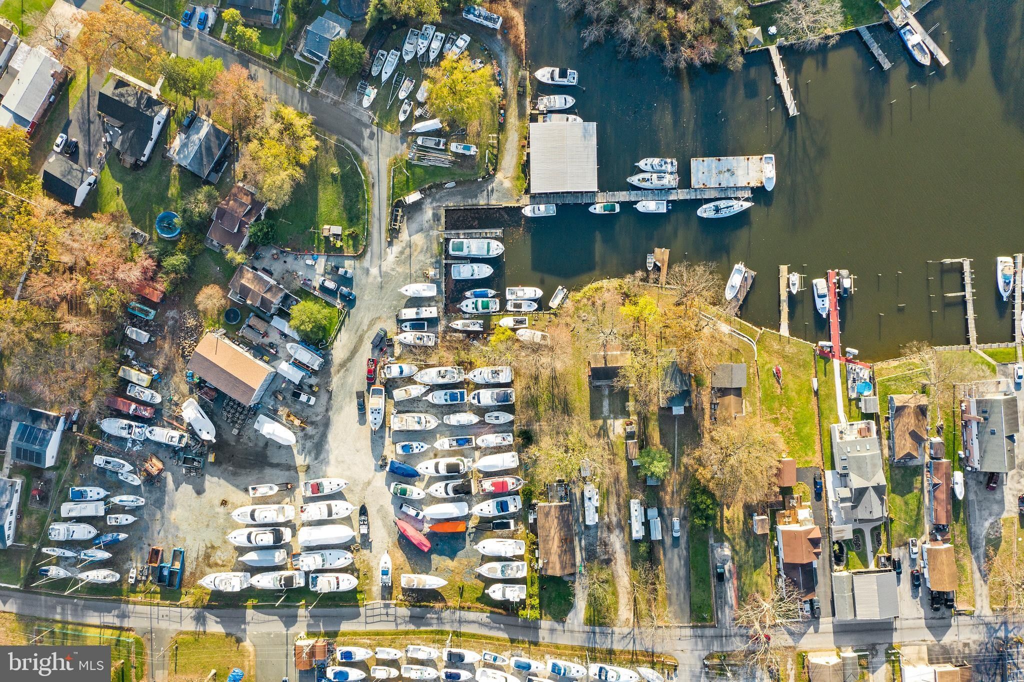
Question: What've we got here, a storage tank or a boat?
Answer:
boat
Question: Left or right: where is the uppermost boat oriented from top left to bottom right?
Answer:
right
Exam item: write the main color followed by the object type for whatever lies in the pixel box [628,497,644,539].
white camper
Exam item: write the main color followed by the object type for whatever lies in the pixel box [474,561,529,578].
white boat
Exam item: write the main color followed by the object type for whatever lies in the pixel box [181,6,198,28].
blue vehicle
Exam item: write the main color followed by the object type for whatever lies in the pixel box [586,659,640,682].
white boat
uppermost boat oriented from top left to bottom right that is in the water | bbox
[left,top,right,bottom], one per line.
[898,26,930,65]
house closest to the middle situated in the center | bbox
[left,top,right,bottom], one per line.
[589,351,633,389]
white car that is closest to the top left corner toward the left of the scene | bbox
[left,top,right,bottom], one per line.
[55,134,69,152]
